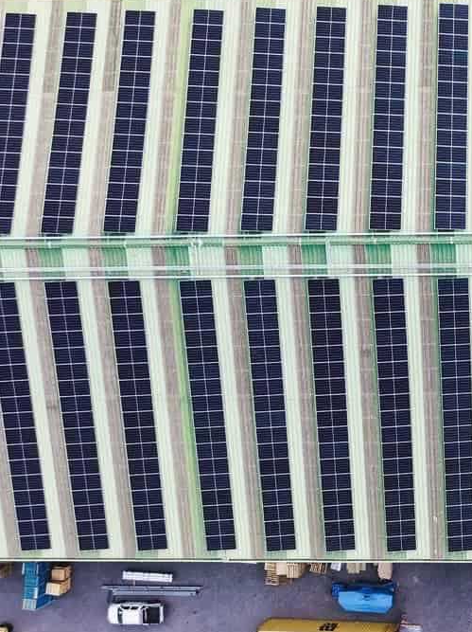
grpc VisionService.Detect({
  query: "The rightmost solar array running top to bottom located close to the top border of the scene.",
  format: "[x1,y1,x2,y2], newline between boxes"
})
[434,2,471,231]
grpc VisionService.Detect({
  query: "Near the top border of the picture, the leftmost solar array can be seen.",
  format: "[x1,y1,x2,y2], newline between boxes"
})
[0,12,37,237]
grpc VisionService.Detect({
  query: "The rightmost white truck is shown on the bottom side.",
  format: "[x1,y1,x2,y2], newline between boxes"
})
[109,601,167,628]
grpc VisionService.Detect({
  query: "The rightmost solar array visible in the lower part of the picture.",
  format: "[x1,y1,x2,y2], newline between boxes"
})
[437,276,472,552]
